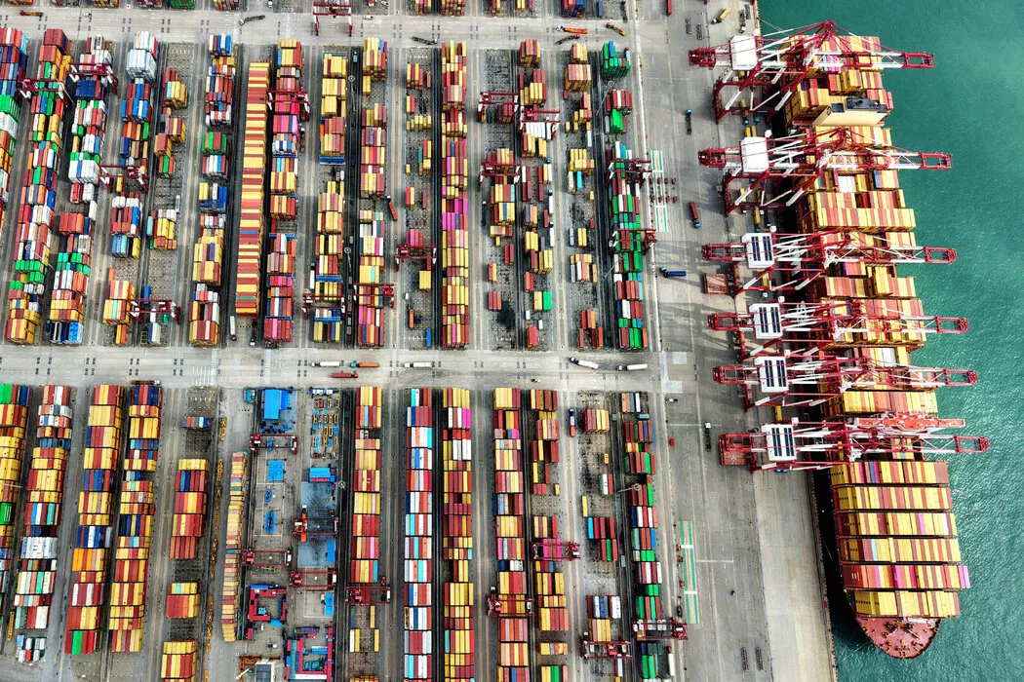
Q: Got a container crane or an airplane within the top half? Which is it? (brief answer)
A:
container crane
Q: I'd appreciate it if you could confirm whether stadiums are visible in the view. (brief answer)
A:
No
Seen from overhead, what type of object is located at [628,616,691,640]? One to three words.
container crane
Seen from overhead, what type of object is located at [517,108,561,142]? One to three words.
container crane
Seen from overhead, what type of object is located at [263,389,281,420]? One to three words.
shed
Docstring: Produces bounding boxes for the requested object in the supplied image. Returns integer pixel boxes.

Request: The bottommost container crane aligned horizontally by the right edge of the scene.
[717,415,992,479]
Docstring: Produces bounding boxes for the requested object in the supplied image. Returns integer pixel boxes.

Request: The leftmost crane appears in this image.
[17,76,73,111]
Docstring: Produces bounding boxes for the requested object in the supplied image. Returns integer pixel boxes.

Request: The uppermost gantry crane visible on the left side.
[313,1,353,37]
